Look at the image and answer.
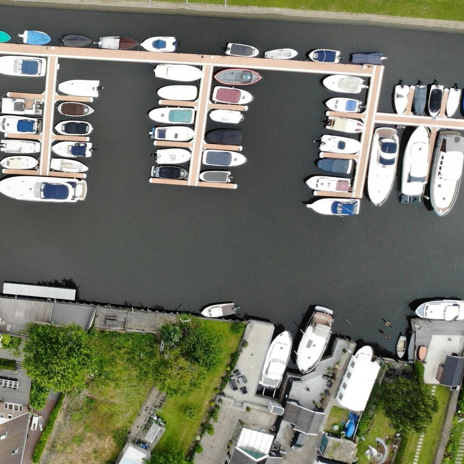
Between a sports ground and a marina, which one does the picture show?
marina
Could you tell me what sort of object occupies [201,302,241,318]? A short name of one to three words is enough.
boat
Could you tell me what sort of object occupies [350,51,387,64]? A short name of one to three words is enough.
boat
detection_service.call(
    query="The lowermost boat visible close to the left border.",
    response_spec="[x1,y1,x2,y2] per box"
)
[0,174,87,202]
